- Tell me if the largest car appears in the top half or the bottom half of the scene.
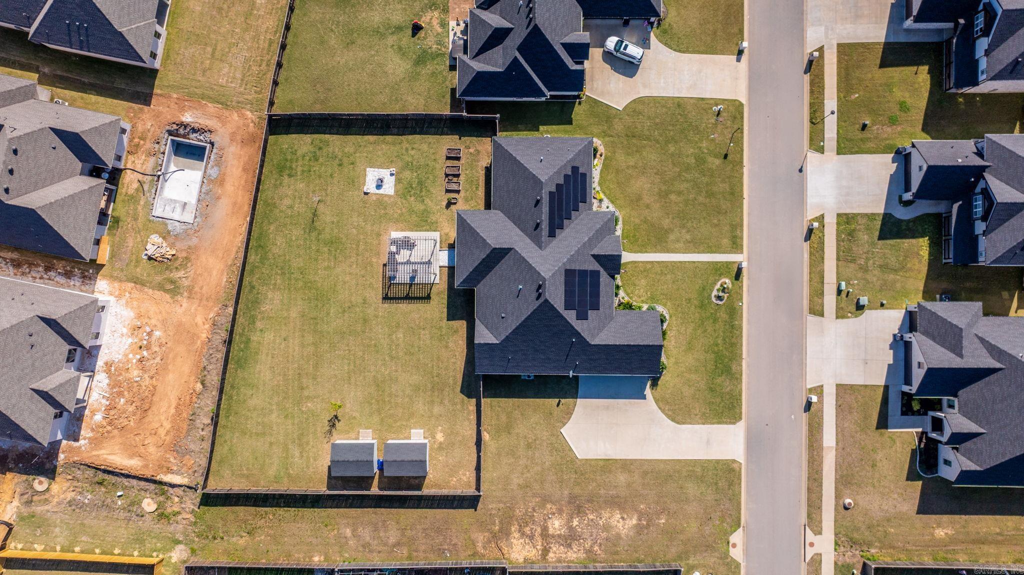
top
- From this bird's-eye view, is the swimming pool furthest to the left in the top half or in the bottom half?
top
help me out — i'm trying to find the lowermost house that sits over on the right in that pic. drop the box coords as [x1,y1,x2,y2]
[897,301,1024,487]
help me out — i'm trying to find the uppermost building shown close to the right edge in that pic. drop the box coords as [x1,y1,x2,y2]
[898,0,1024,92]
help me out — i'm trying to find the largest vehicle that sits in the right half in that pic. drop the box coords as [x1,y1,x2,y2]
[602,37,645,67]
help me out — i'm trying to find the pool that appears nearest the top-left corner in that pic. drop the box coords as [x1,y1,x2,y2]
[152,137,212,224]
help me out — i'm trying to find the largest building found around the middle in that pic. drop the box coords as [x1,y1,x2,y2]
[455,136,664,376]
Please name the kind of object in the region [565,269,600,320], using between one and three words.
solar array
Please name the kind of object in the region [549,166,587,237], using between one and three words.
solar array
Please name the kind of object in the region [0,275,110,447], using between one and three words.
house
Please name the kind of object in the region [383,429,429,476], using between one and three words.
shed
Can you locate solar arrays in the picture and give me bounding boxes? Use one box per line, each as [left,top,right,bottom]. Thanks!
[549,166,587,237]
[565,269,600,320]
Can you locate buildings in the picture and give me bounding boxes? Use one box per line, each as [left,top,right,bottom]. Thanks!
[456,0,663,100]
[0,73,133,263]
[383,429,429,476]
[898,0,1024,92]
[329,429,377,476]
[897,301,1024,487]
[898,133,1024,267]
[455,136,664,376]
[0,275,110,447]
[0,0,173,67]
